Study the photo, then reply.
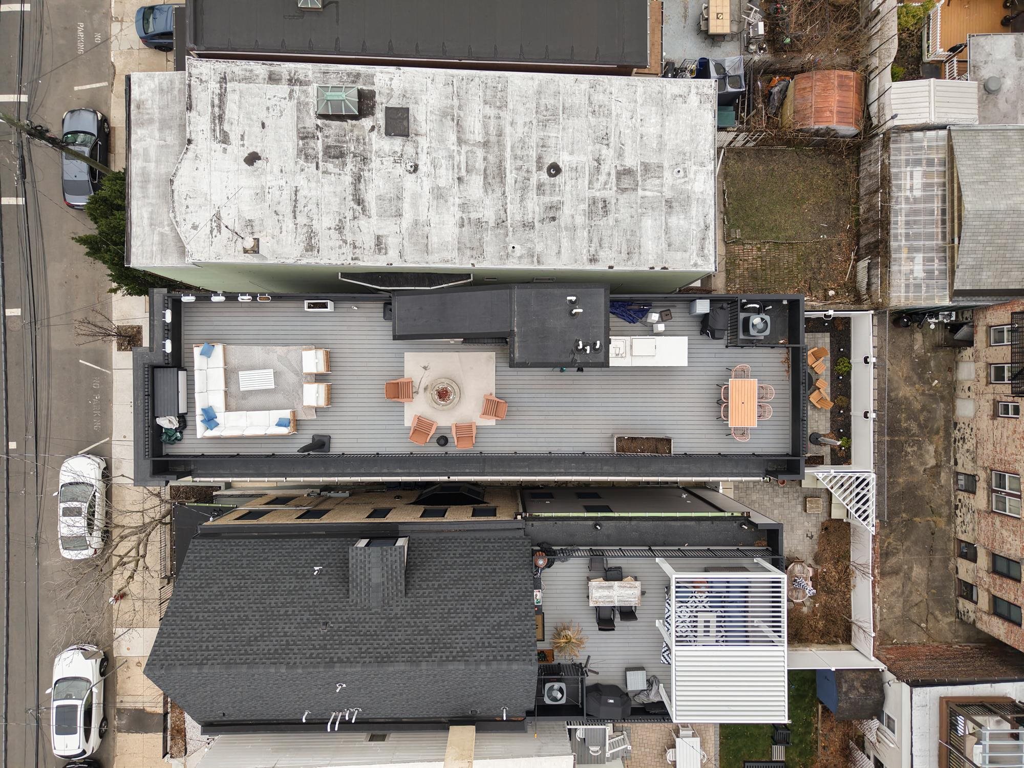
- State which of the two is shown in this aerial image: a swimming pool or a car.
car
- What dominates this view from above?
buildings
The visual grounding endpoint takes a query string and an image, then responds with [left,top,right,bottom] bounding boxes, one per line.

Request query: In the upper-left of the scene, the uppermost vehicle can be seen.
[137,6,172,55]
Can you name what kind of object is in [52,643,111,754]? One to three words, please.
car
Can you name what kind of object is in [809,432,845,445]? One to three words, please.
umbrella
